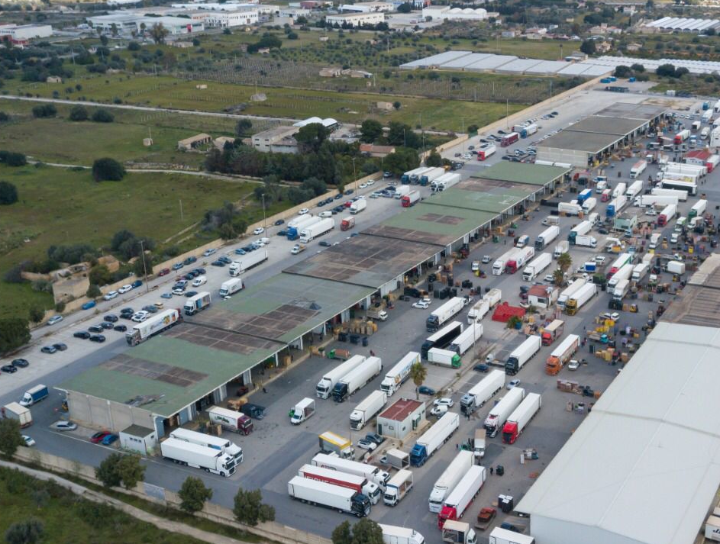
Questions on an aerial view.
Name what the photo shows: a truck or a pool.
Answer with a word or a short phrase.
truck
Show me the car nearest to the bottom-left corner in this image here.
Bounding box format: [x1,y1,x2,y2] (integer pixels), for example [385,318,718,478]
[20,433,37,447]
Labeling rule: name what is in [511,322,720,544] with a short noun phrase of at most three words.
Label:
warehouse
